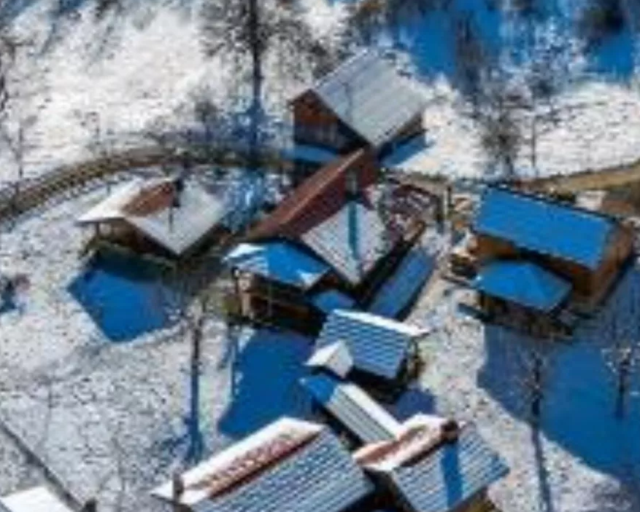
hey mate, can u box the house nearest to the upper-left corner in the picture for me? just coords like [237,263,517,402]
[84,163,228,288]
